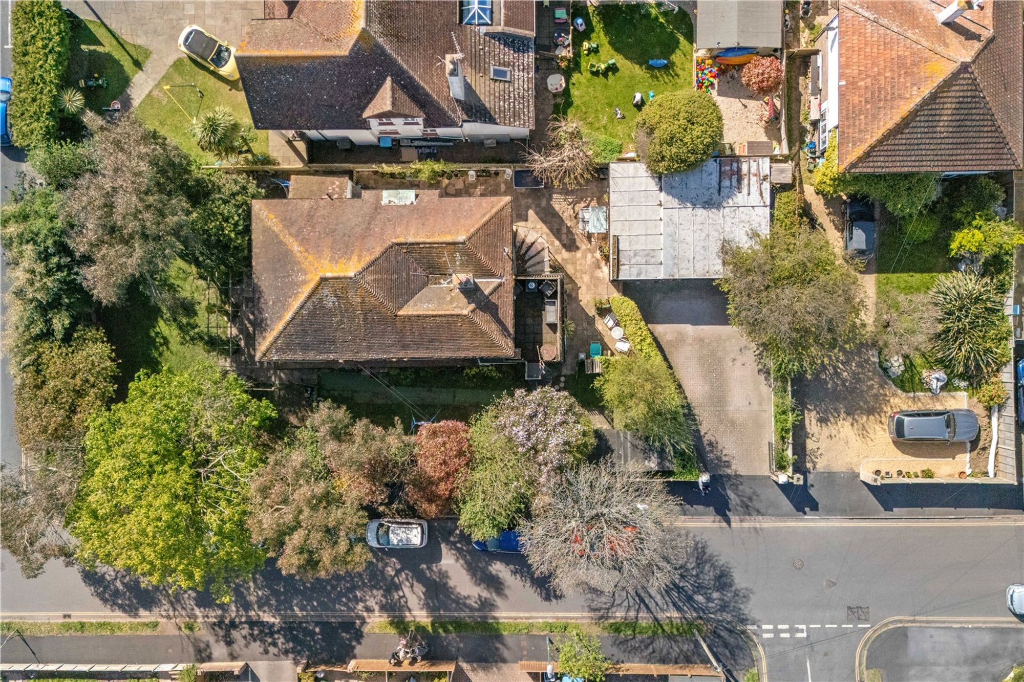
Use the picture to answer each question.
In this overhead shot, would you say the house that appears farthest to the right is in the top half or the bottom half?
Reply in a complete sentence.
It is in the top half that the house that appears farthest to the right appears.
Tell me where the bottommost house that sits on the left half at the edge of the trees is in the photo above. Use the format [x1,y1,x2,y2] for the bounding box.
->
[250,187,525,362]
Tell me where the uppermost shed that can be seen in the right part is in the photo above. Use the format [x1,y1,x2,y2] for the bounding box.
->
[689,0,782,59]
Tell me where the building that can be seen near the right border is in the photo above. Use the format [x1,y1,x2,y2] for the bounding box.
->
[795,0,1024,181]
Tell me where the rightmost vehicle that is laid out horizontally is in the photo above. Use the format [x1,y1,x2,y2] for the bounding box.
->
[892,406,977,445]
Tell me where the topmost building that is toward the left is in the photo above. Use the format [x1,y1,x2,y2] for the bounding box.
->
[230,0,537,154]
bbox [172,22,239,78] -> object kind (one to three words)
car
